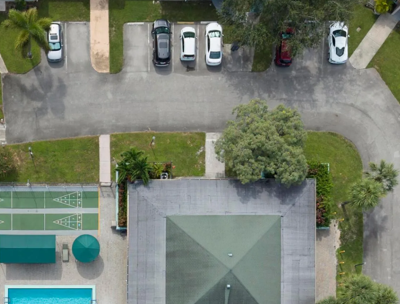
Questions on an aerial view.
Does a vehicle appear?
Yes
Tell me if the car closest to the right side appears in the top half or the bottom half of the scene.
top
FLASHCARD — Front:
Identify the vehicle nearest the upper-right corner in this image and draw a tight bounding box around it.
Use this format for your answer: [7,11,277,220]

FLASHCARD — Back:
[327,23,349,65]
